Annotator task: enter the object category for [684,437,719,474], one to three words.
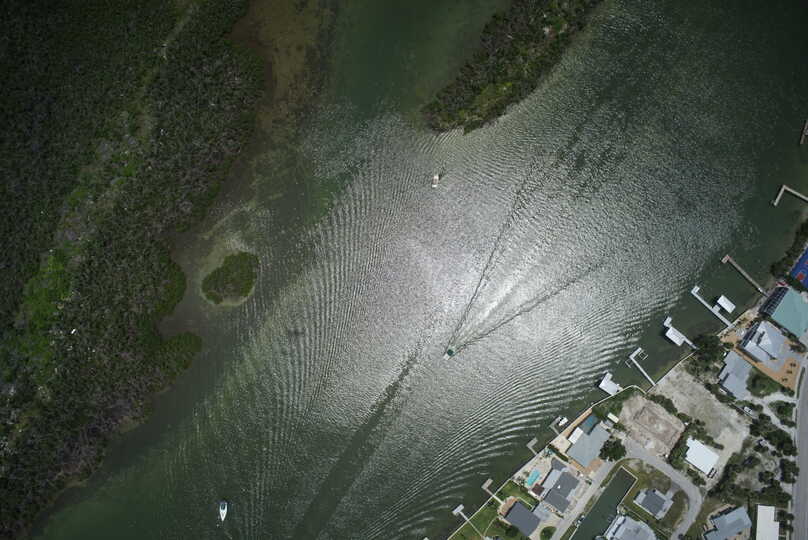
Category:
house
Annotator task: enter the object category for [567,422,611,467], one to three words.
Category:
house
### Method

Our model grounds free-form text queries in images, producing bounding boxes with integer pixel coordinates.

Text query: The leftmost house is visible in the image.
[505,500,540,535]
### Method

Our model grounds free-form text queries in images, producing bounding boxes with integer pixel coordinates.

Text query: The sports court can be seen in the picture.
[787,244,808,290]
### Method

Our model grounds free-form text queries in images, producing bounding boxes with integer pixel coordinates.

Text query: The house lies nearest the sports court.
[769,288,808,339]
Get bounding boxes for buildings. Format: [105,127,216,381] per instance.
[703,505,750,540]
[636,488,665,516]
[769,288,808,339]
[611,516,655,540]
[661,317,698,350]
[754,504,780,540]
[567,422,611,467]
[717,351,752,400]
[713,294,735,313]
[597,371,624,396]
[505,500,540,535]
[684,437,719,474]
[743,321,785,362]
[542,457,579,513]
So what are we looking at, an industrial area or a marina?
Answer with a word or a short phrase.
marina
